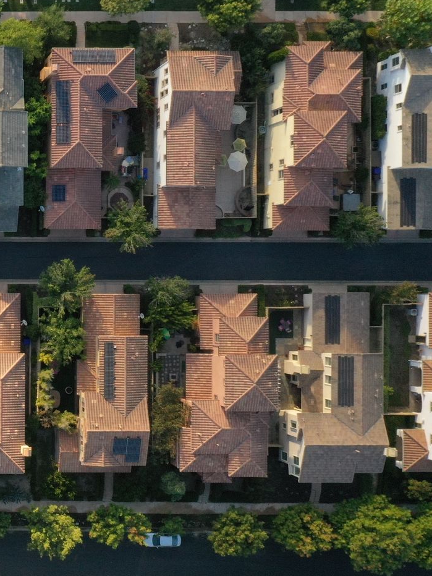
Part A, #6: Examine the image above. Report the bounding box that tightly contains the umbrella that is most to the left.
[122,155,137,169]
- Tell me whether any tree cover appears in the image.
Yes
